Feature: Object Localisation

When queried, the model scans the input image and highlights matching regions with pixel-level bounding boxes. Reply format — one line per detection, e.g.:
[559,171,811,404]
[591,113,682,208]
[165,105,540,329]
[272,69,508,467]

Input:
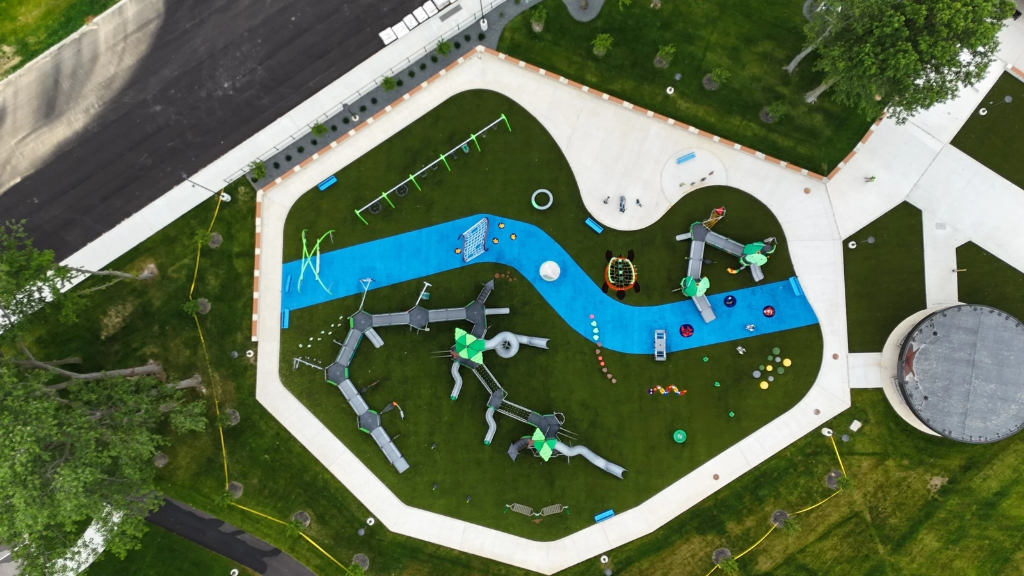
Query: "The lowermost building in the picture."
[897,302,1024,443]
